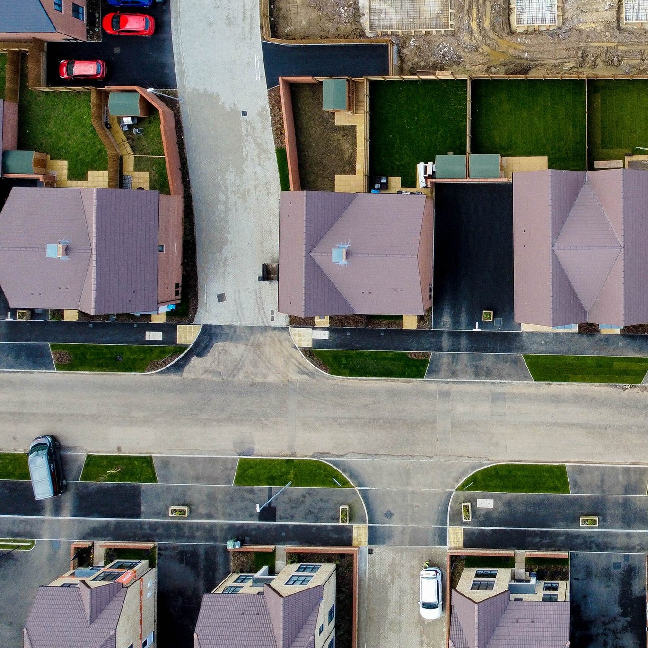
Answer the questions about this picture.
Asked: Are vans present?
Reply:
Yes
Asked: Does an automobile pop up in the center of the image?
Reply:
No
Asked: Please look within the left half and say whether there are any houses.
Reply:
Yes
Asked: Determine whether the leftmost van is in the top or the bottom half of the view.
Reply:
bottom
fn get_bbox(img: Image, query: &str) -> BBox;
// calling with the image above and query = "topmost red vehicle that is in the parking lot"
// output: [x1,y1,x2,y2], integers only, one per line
[103,9,157,37]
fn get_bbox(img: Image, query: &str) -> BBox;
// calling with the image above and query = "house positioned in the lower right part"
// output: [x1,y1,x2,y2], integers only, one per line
[449,567,571,648]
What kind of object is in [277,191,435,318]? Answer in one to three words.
house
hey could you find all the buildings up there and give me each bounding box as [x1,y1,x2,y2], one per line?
[198,560,337,648]
[23,561,157,648]
[109,92,151,118]
[434,155,468,178]
[469,154,501,178]
[277,191,435,318]
[513,169,648,327]
[323,79,352,112]
[0,186,184,318]
[0,98,37,180]
[449,567,571,648]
